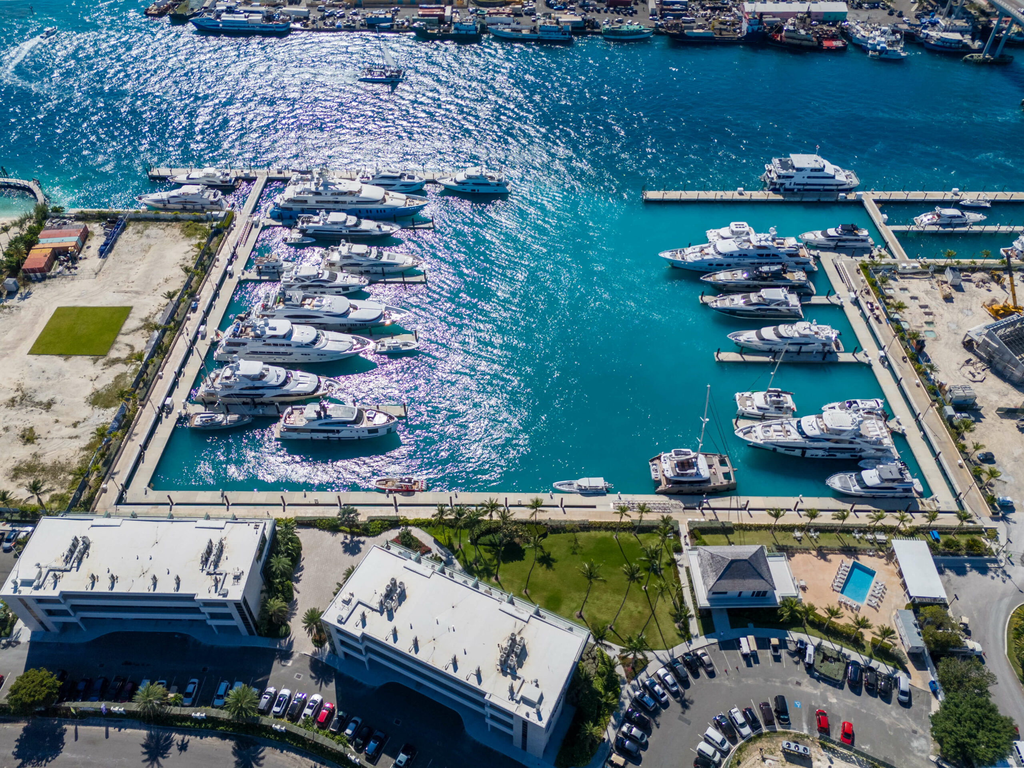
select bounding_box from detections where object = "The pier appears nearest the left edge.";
[0,177,49,206]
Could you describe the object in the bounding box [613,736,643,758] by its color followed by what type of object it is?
black car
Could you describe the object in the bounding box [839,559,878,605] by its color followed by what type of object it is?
blue swimming pool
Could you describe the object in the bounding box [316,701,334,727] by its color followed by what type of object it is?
red car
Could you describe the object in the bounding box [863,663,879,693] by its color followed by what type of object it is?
black car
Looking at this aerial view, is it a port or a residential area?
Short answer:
port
